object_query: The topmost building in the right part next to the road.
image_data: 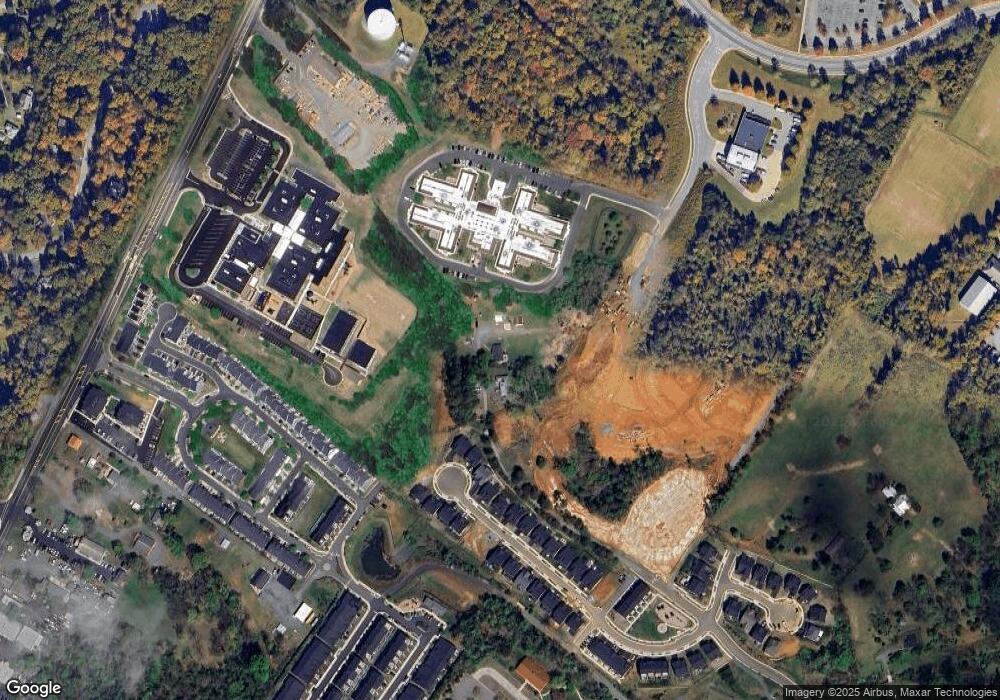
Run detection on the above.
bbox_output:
[728,111,771,171]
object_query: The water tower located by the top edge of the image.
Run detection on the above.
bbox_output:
[365,6,396,37]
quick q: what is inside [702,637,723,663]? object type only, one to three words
house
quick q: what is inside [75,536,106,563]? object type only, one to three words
shed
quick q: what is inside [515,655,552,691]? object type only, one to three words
building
